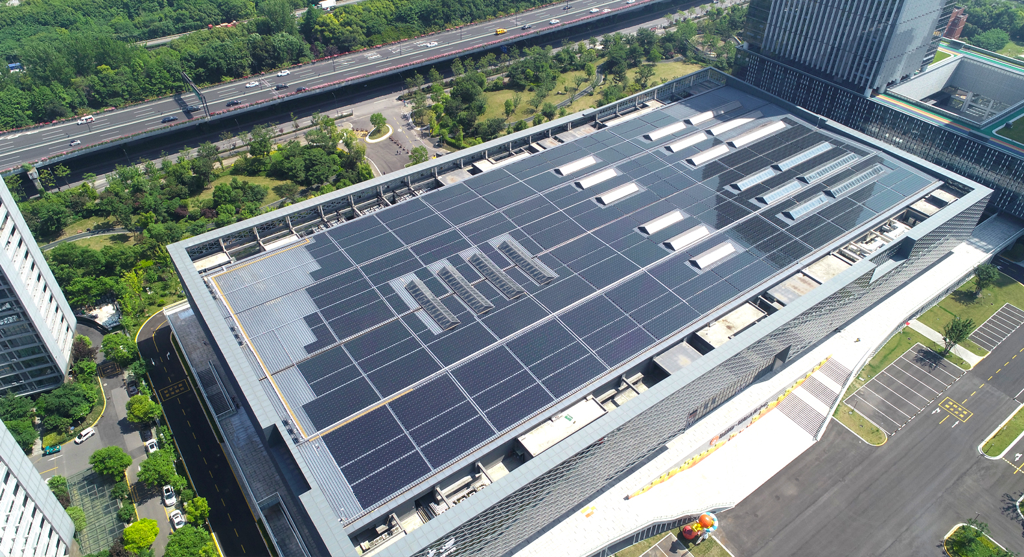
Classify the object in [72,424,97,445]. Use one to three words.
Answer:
car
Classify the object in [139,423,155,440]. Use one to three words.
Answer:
car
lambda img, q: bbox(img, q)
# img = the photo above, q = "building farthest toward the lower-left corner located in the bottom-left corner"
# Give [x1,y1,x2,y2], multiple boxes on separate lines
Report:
[0,425,73,557]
